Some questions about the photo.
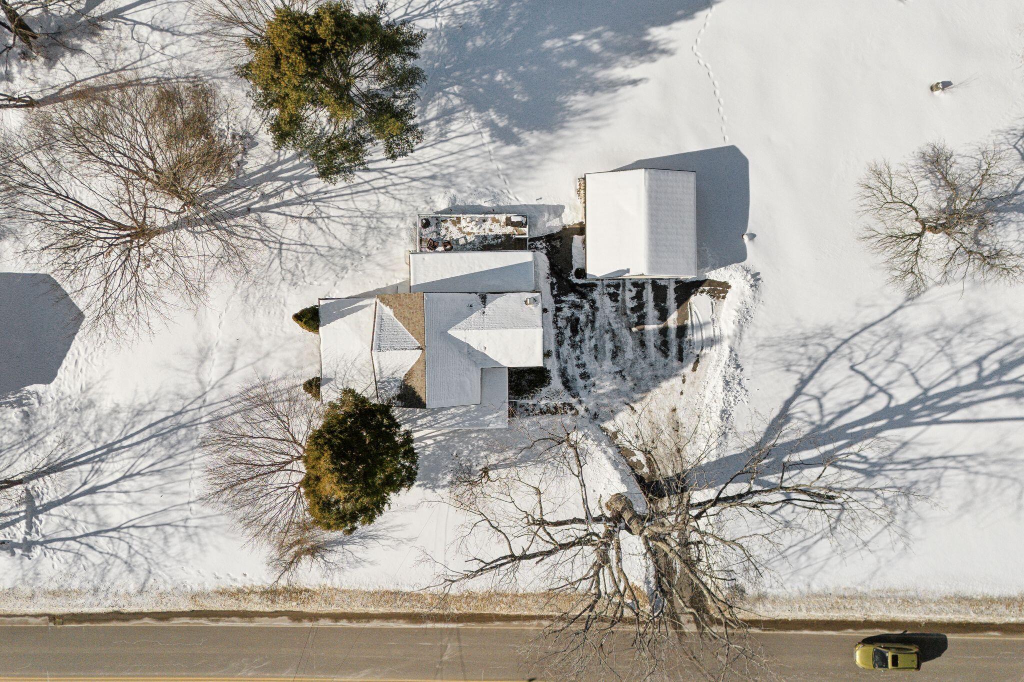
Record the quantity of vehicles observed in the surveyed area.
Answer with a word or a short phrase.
1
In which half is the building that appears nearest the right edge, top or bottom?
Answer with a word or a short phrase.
top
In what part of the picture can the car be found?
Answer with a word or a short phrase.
bottom right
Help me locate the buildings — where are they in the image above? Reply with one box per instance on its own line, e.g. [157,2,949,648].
[320,251,547,431]
[583,167,697,280]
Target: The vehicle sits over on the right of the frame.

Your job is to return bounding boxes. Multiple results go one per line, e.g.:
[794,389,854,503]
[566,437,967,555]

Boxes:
[852,639,919,674]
